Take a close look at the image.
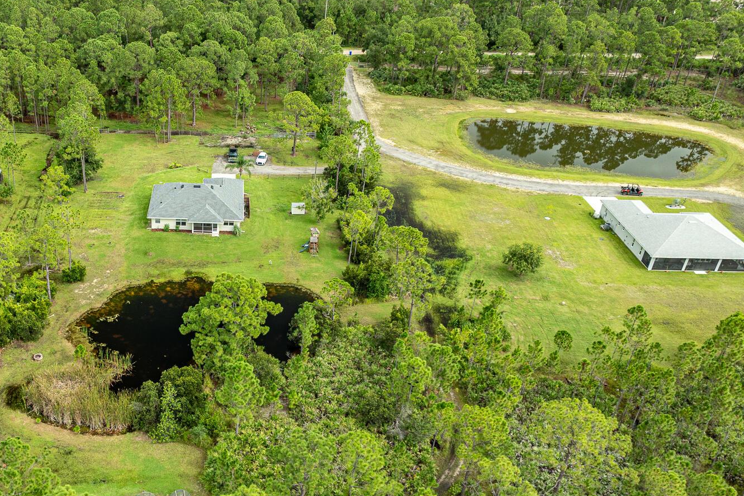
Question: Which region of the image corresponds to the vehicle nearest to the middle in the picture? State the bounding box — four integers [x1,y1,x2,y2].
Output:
[252,149,266,164]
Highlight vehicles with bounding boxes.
[227,146,239,162]
[252,149,266,164]
[621,180,645,193]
